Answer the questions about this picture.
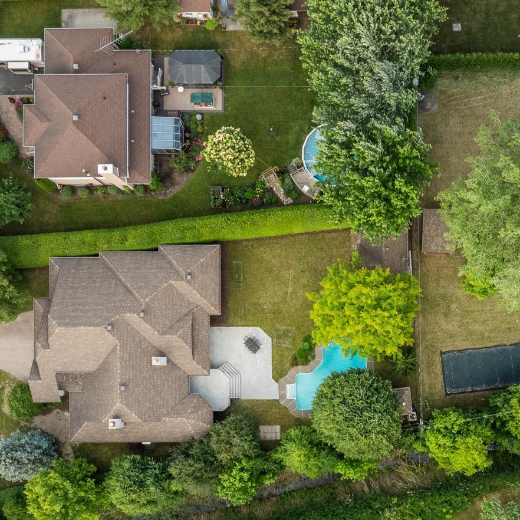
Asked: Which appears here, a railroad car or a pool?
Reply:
pool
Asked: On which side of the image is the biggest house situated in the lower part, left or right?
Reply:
left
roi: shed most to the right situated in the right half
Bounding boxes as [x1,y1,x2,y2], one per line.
[422,208,454,254]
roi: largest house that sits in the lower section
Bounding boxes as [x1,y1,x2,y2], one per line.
[28,245,223,445]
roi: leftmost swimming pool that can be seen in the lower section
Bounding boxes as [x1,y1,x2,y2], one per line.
[279,337,374,418]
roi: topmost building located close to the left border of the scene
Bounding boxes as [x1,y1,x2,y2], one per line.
[22,28,156,190]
